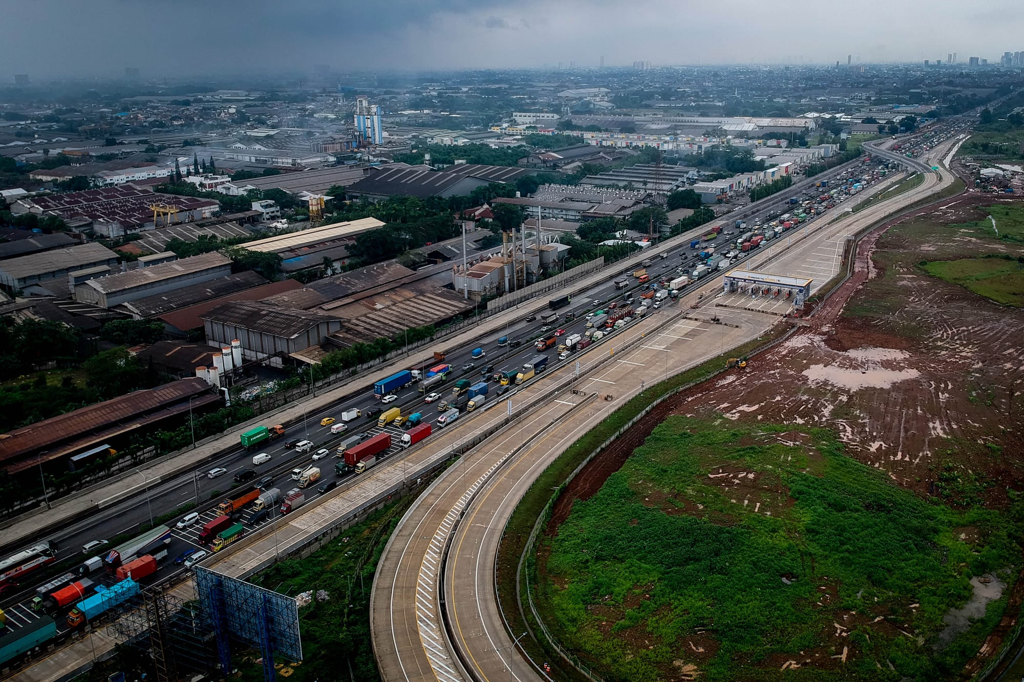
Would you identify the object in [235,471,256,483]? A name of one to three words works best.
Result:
vehicle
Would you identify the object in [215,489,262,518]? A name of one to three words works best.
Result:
truck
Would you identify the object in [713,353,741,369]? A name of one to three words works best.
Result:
work vehicle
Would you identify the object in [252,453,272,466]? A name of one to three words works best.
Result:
vehicle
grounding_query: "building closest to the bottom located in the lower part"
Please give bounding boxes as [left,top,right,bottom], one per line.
[0,371,225,501]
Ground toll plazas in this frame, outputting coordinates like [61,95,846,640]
[724,267,818,306]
